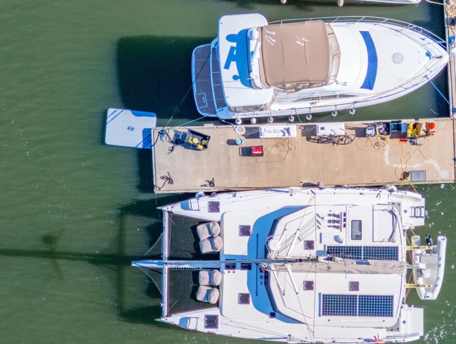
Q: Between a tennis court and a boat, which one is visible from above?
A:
boat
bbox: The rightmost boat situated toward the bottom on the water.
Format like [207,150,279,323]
[410,232,446,300]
